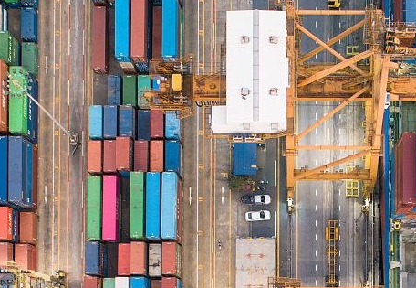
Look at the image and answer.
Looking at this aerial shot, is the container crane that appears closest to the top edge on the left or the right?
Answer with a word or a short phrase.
right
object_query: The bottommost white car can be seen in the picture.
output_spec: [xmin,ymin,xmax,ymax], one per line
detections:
[246,209,270,221]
